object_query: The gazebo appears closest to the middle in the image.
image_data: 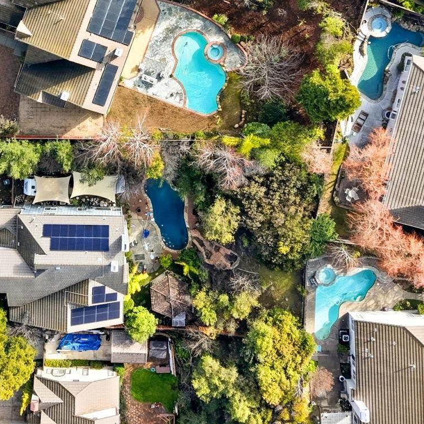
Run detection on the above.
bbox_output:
[153,277,191,323]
